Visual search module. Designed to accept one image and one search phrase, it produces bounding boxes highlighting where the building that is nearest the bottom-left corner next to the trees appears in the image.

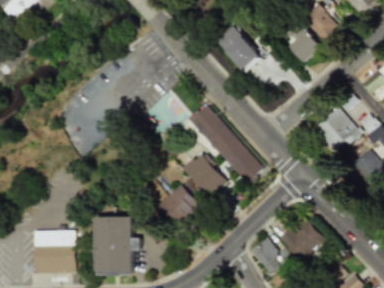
[34,229,76,273]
